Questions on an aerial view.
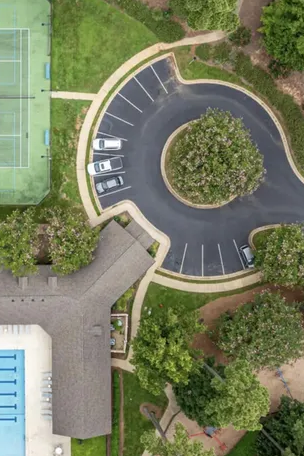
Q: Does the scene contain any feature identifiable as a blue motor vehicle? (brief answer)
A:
No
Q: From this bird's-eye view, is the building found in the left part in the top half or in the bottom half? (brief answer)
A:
bottom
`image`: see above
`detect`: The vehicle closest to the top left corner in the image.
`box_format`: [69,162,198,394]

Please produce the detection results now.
[93,137,122,151]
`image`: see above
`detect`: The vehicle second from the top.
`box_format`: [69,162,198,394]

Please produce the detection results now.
[87,155,124,174]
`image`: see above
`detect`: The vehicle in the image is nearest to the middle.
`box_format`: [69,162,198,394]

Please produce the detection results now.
[96,175,125,193]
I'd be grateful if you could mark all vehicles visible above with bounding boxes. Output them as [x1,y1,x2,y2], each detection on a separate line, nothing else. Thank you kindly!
[87,155,124,174]
[96,175,125,193]
[239,243,257,270]
[93,137,122,151]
